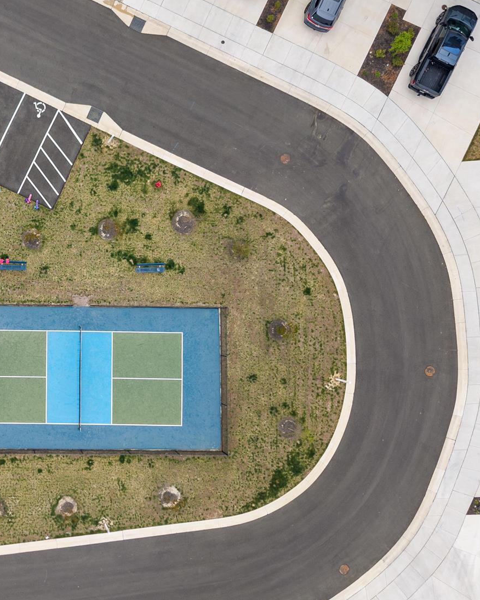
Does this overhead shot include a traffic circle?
No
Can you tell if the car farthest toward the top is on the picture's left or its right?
right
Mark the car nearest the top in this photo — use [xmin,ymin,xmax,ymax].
[306,0,347,32]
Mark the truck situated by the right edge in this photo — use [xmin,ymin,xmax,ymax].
[405,1,478,100]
